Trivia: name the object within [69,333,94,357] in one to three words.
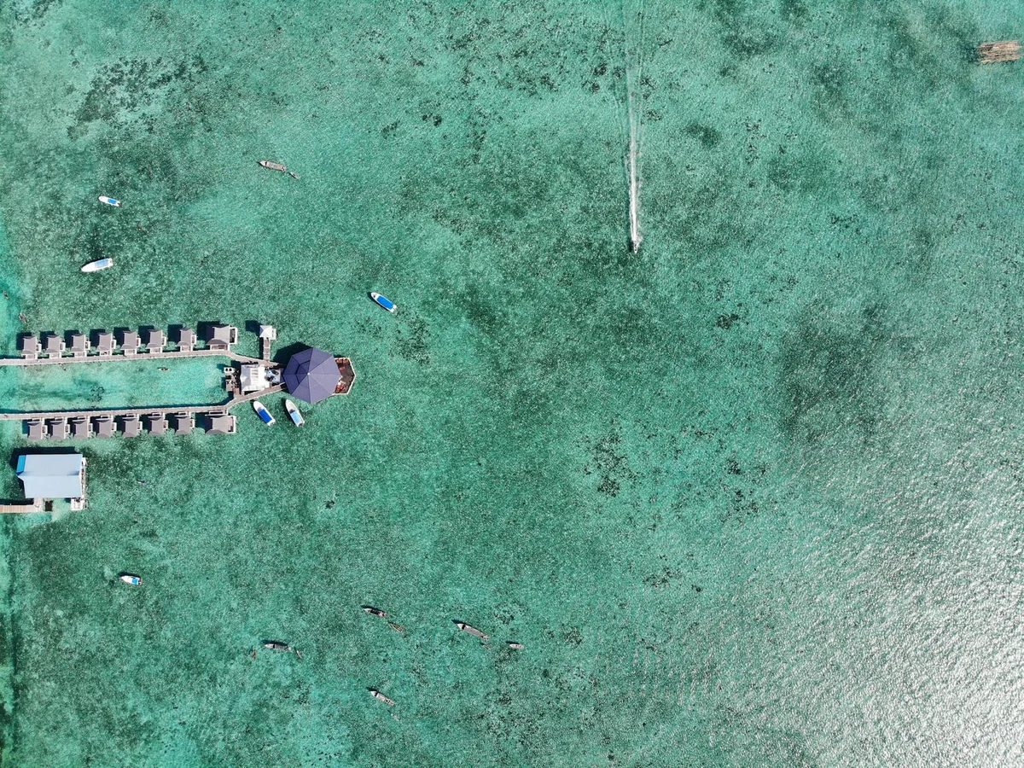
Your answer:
house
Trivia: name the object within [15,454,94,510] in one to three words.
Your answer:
house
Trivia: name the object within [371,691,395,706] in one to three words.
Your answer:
boat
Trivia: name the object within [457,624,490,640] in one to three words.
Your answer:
boat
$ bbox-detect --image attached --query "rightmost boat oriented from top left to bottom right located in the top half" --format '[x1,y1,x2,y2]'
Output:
[370,291,396,312]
